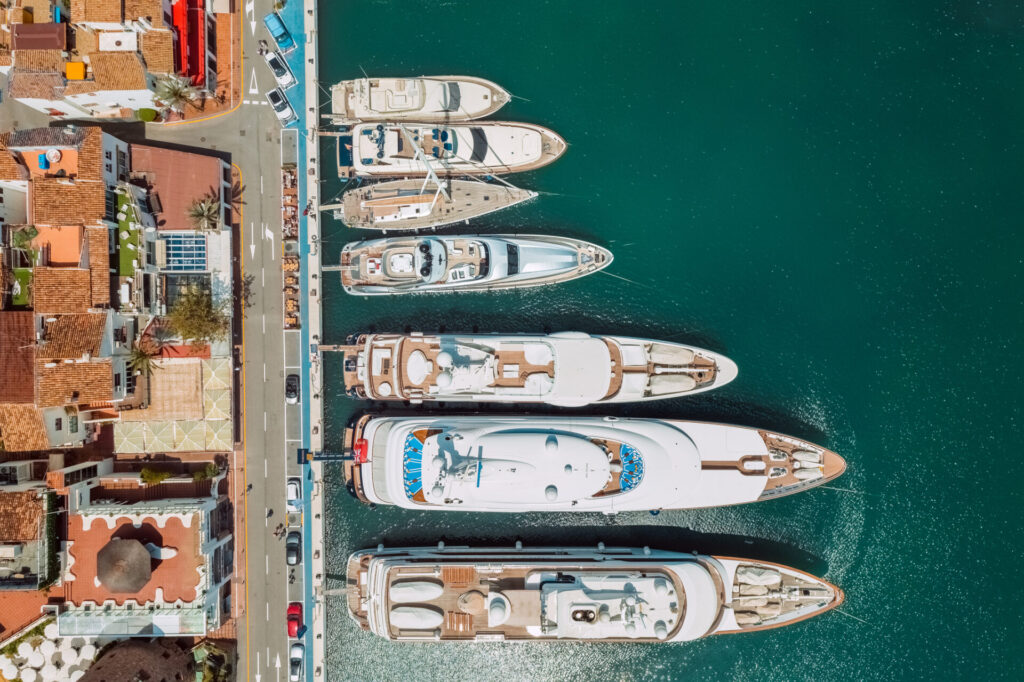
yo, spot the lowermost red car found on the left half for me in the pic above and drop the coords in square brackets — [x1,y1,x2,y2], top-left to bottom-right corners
[286,601,304,635]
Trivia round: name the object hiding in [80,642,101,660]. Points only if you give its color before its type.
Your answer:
white umbrella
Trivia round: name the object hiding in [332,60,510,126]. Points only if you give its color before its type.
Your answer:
white boat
